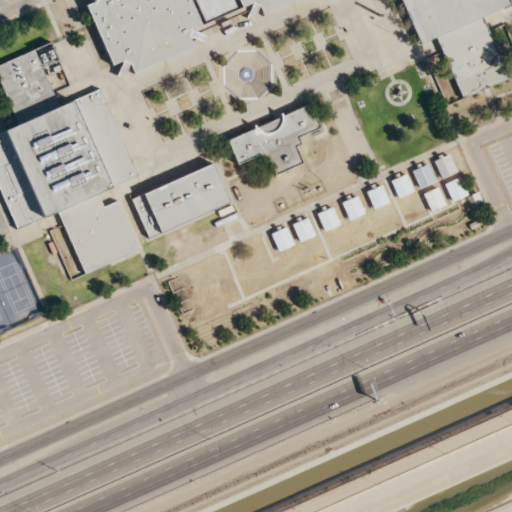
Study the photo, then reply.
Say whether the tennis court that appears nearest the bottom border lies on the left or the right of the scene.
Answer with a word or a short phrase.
left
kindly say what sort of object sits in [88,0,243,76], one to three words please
building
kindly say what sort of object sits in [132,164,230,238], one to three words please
building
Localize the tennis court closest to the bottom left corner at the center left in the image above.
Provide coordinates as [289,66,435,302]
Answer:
[0,251,38,328]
